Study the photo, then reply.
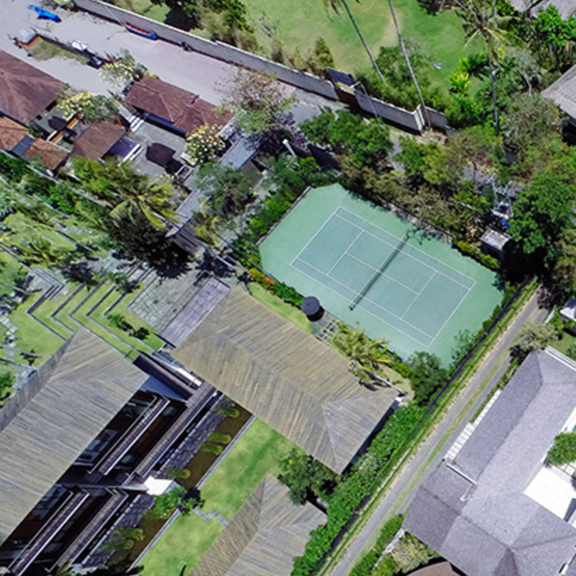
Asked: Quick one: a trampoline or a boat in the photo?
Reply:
boat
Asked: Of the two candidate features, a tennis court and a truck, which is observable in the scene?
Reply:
tennis court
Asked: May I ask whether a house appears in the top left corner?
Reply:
Yes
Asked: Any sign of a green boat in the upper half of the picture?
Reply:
No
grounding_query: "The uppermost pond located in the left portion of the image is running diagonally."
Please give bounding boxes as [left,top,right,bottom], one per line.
[184,413,257,491]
